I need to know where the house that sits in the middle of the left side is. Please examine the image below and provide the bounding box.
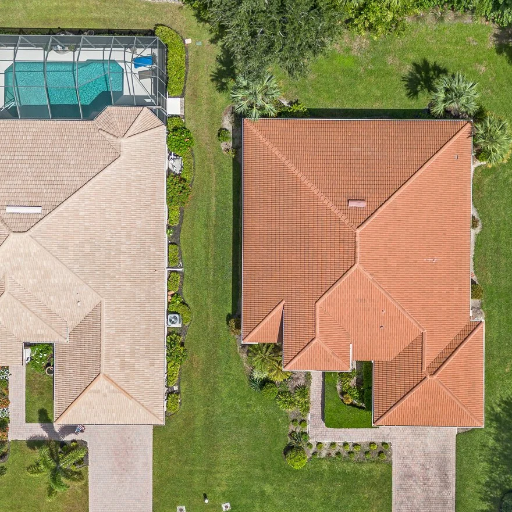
[0,104,166,427]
